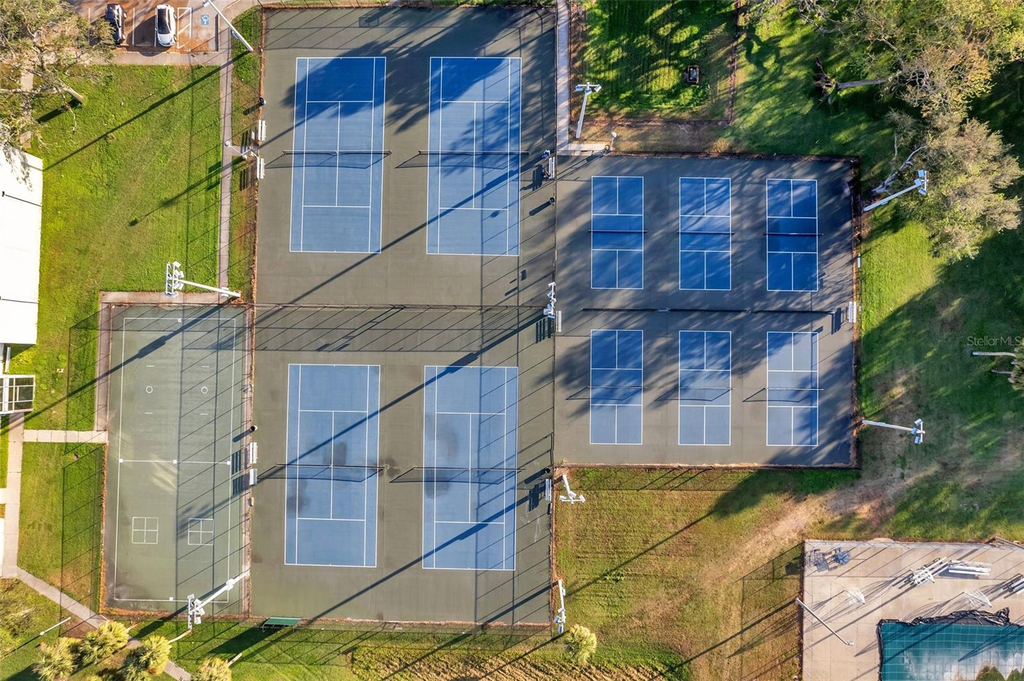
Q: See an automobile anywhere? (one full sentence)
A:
Yes, an automobile appears in the view.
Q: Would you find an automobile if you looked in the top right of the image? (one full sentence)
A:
No, I can find no automobile in the top right of the image.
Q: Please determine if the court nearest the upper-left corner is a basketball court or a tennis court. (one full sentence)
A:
The court nearest the upper-left corner can be classified as a tennis court.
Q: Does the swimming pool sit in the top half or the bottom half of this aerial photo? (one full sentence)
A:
The bottom half of the photo is where the swimming pool is.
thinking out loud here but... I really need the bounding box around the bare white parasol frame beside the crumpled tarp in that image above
[963,588,994,616]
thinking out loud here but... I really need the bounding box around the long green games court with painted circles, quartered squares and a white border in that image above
[103,307,243,612]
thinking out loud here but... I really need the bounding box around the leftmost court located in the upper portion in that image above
[290,56,386,253]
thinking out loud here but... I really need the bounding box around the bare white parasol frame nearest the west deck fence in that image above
[842,585,870,613]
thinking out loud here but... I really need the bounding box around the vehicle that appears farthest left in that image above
[107,4,129,44]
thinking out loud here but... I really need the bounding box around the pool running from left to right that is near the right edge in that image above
[883,624,1024,681]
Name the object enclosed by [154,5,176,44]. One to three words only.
car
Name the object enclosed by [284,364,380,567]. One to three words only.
tennis court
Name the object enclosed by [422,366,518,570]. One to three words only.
tennis court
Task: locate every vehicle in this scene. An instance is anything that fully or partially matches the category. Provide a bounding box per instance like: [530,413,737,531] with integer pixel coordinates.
[107,4,129,44]
[154,5,176,44]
